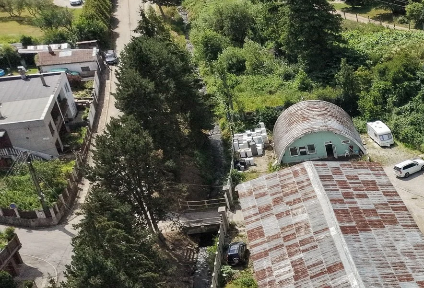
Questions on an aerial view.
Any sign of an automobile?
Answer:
Yes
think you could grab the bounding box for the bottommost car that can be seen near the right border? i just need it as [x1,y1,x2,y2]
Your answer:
[391,156,424,176]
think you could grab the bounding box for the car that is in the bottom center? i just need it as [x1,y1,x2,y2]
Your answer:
[225,239,245,262]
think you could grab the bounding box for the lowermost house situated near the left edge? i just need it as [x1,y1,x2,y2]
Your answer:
[0,71,76,162]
